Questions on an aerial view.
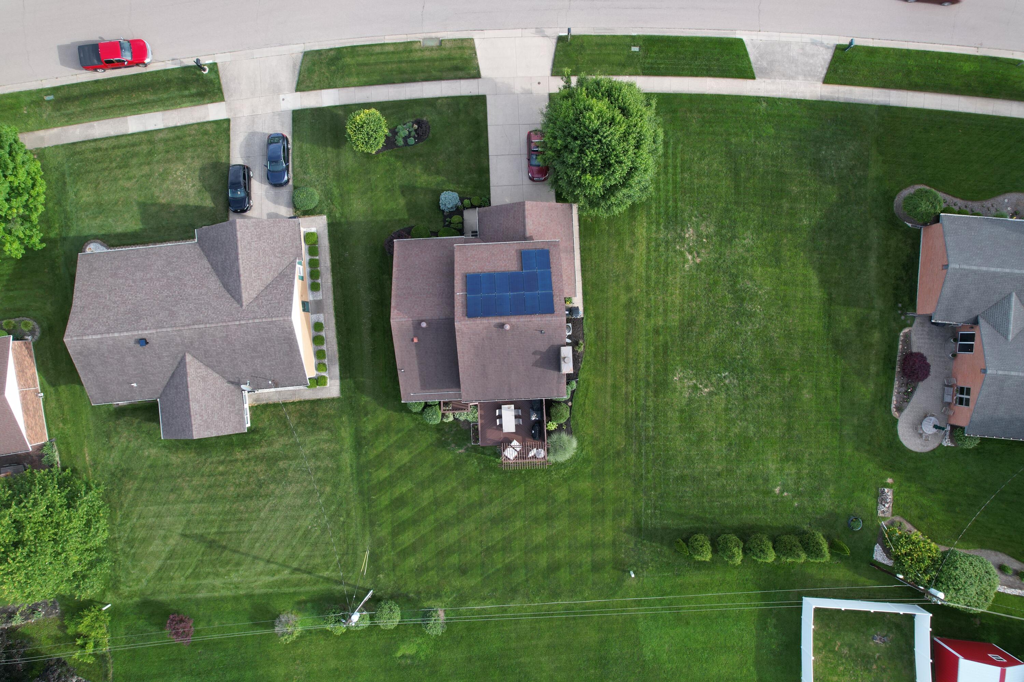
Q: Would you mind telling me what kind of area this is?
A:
residential area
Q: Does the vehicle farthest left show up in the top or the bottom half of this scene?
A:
top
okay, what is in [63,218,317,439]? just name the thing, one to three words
house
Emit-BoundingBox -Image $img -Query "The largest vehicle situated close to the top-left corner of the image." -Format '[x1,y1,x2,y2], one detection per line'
[79,35,153,74]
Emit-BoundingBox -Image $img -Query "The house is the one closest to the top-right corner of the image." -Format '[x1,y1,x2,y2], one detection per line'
[916,211,1024,441]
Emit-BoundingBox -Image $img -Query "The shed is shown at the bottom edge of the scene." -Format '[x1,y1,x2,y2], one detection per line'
[931,638,1022,682]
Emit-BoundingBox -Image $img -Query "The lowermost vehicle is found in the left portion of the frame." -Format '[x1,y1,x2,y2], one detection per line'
[224,163,255,214]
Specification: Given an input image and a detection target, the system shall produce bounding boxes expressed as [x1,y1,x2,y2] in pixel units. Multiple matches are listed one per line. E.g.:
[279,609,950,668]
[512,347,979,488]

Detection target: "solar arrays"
[456,249,554,318]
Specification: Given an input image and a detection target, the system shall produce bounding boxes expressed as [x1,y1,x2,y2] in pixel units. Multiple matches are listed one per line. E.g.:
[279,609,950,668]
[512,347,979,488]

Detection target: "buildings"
[0,334,48,458]
[63,218,317,439]
[390,201,578,404]
[916,211,1024,441]
[931,638,1022,682]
